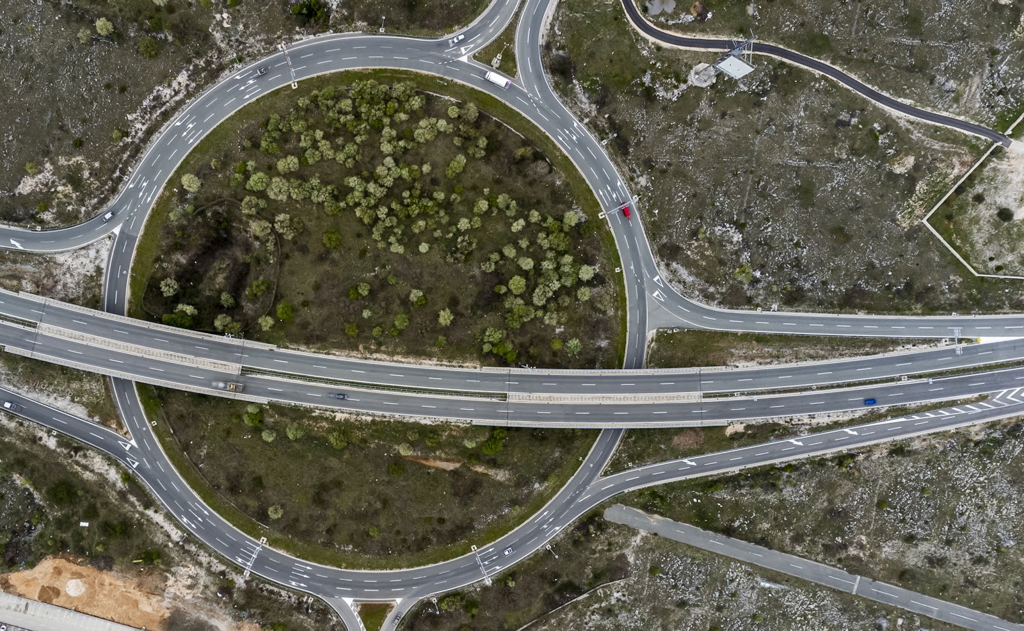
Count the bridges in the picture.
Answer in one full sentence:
The number of bridges here is 2.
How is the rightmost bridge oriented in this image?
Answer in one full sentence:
In this picture, the rightmost bridge is oriented horizontally.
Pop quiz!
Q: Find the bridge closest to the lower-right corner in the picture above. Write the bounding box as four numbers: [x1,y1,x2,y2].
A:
[472,365,728,429]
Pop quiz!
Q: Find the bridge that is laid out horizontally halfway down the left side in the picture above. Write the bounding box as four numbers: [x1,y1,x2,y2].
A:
[4,290,276,404]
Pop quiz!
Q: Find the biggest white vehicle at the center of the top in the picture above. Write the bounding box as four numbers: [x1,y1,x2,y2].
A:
[483,72,511,91]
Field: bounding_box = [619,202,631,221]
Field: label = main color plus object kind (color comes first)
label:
red vehicle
